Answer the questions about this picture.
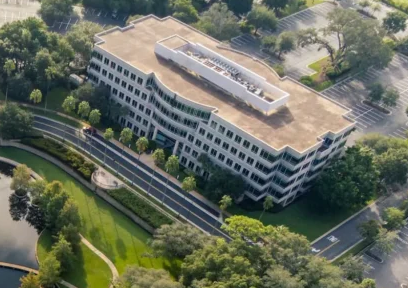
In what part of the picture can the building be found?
center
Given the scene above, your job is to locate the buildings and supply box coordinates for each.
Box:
[89,14,356,214]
